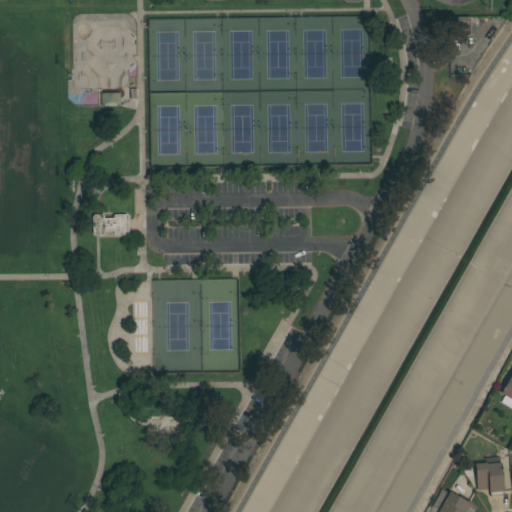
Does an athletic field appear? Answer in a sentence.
Yes, looking at the shot, I can spot an athletic field.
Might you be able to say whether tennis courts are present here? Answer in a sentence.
Yes, this view includes a tennis court.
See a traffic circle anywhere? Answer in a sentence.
No, there's no traffic circle here.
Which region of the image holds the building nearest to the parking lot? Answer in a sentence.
Look in the left portion of the view to spot the building nearest to the parking lot.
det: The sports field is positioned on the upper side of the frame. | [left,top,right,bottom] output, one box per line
[0,12,66,271]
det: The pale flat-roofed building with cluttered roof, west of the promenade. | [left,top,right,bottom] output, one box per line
[93,212,130,236]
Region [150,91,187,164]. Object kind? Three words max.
tennis court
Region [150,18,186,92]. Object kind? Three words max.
tennis court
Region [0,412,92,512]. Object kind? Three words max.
sports field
